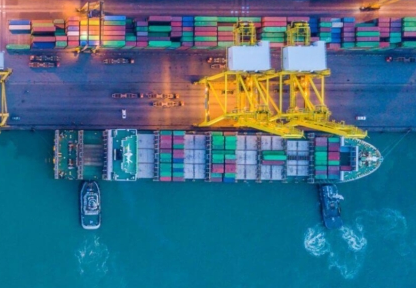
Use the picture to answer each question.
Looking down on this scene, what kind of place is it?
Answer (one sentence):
The area seen from above is a port.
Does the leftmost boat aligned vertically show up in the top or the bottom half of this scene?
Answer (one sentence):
The bottom half of the photo is where the leftmost boat aligned vertically is.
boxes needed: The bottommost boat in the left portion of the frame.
[80,181,102,231]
